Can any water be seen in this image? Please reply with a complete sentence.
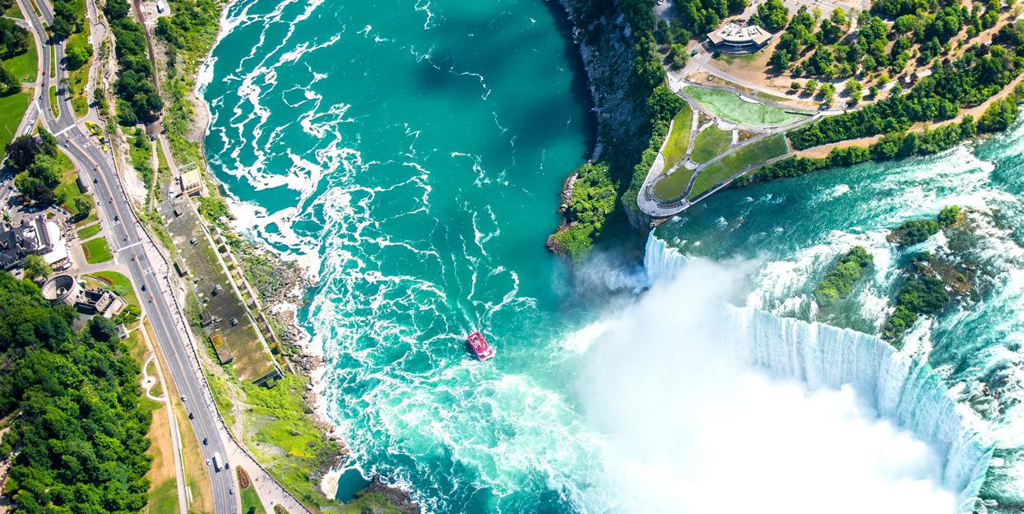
Yes, the picture does contain water.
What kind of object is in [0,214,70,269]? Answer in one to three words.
building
